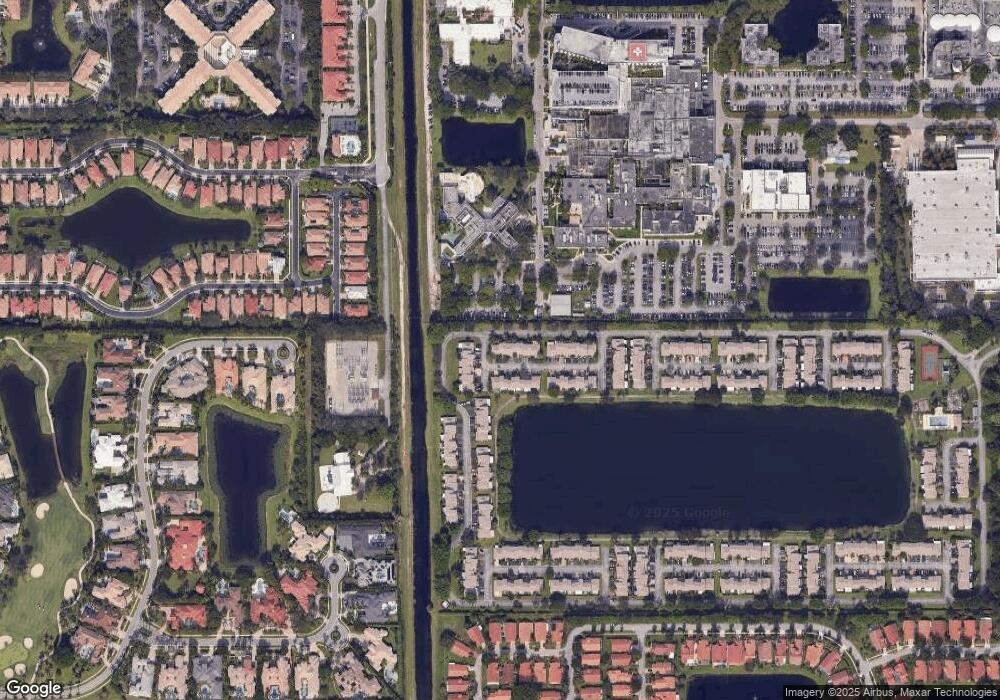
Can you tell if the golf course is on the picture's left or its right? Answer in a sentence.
The golf course is on the left side of the image.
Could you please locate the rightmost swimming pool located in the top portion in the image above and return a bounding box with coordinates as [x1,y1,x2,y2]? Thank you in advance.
[341,135,361,157]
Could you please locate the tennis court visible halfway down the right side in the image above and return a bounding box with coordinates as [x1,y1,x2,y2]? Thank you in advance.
[922,345,938,381]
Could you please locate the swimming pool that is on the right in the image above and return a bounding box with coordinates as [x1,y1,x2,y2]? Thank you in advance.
[923,407,953,430]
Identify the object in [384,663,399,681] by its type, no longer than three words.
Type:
swimming pool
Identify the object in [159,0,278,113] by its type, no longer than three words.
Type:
building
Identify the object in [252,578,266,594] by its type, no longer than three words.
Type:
swimming pool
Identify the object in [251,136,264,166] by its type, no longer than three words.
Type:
house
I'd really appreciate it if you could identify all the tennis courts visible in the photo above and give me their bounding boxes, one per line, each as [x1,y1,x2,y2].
[329,116,357,133]
[922,345,938,381]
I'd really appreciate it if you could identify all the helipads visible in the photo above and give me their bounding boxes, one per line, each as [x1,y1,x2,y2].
[629,37,647,56]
